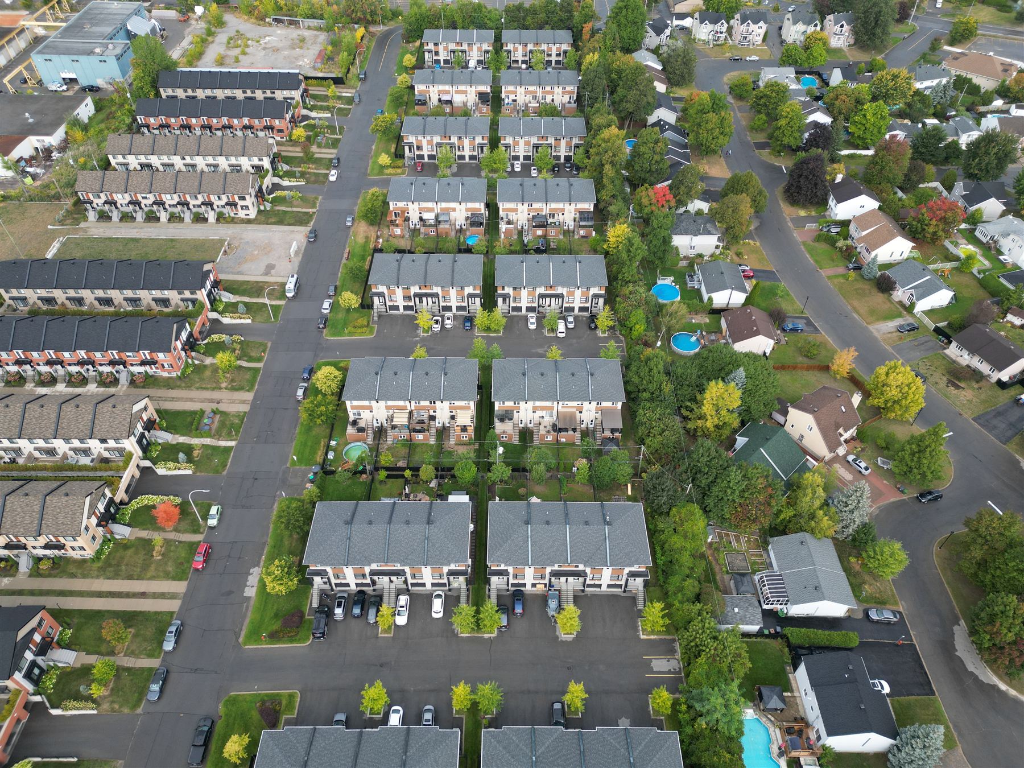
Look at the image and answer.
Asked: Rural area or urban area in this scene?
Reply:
urban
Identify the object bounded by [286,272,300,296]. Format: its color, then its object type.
white vehicle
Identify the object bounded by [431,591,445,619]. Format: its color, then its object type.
white car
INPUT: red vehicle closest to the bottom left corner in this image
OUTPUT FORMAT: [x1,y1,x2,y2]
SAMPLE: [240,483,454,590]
[193,543,212,570]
